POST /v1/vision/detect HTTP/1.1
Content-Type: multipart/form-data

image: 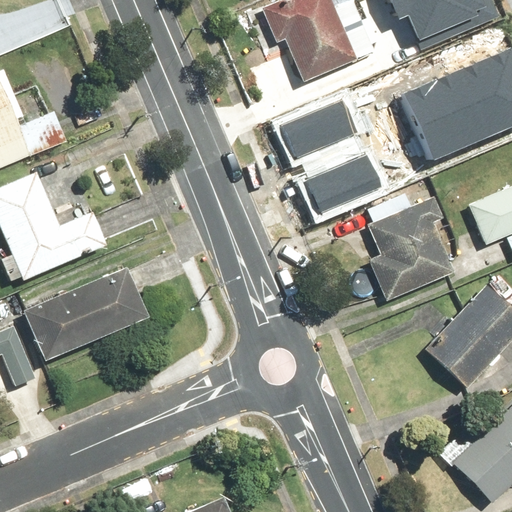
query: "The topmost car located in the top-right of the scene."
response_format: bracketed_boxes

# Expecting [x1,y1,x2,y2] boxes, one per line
[391,44,420,64]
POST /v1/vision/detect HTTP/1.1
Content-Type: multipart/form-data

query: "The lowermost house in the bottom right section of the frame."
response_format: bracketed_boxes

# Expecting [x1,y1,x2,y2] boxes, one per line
[454,407,512,502]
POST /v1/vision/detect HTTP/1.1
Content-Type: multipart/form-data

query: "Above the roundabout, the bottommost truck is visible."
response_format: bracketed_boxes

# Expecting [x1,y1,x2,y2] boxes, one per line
[278,266,300,300]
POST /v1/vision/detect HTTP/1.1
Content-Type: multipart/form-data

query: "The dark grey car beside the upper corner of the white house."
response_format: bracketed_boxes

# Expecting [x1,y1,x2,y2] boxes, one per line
[29,160,58,178]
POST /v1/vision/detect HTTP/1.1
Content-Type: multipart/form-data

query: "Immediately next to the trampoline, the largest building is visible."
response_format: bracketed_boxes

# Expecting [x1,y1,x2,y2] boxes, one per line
[368,197,454,302]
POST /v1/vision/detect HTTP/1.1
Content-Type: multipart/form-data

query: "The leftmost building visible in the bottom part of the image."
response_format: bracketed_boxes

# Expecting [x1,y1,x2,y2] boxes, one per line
[0,326,35,388]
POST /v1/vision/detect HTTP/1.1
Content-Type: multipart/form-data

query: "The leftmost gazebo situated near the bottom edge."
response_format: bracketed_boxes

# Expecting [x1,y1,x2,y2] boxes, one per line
[126,479,152,498]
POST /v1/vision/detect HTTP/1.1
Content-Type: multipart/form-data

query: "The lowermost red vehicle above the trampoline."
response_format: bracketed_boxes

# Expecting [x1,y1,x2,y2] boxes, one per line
[332,216,365,237]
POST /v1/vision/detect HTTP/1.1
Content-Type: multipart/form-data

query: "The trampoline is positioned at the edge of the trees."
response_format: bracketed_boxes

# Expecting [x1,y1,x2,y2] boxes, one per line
[349,272,373,296]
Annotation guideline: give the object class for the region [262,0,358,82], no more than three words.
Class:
house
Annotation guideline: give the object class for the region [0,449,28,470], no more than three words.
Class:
car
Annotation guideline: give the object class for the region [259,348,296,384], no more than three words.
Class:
roundabout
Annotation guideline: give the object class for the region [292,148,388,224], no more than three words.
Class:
house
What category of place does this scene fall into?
residential area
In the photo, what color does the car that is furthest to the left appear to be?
white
